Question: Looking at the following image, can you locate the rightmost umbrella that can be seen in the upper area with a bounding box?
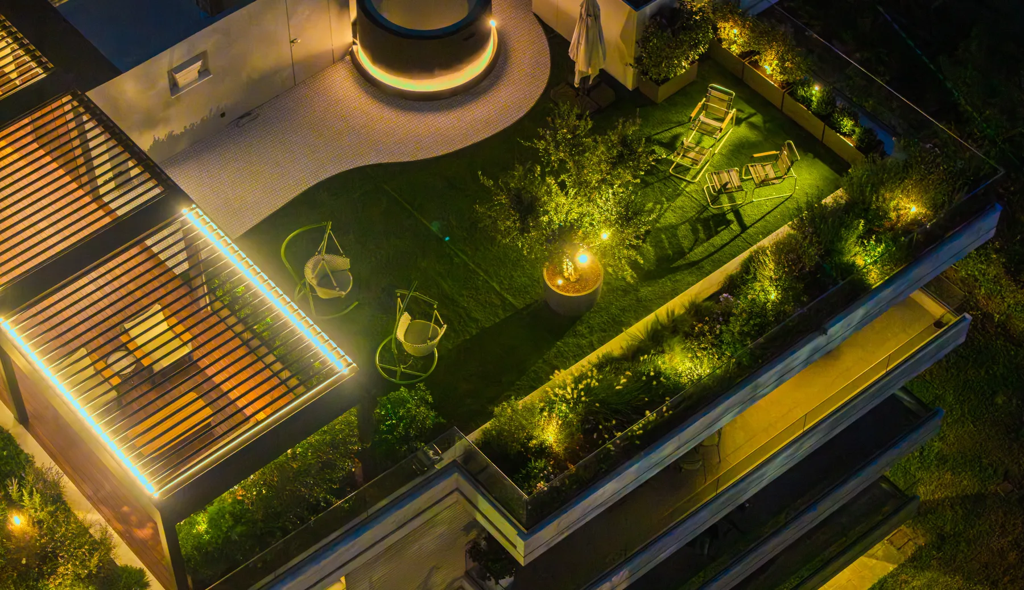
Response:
[553,0,615,117]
